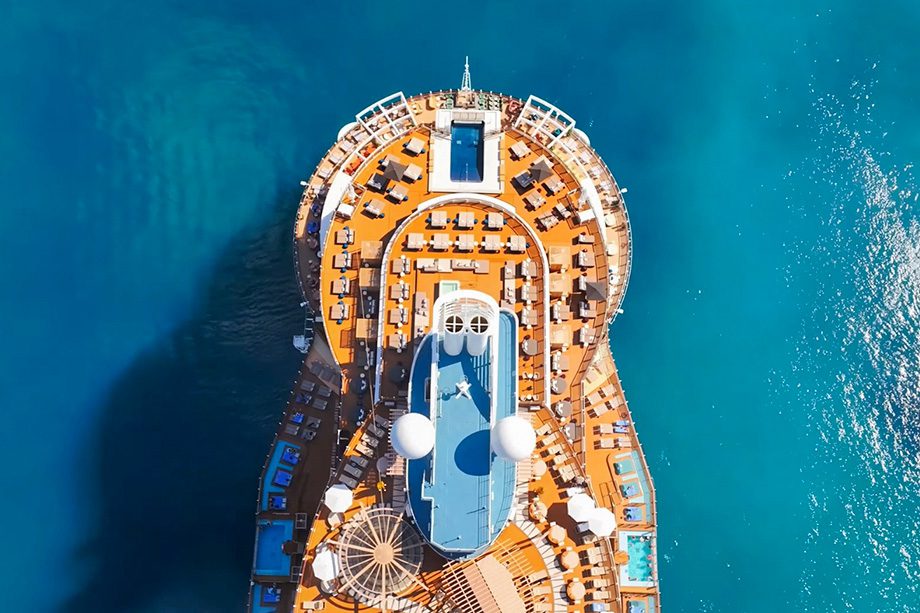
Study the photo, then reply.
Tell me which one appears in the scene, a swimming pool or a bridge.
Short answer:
swimming pool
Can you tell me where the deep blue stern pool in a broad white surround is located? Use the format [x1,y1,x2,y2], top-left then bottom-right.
[427,109,506,194]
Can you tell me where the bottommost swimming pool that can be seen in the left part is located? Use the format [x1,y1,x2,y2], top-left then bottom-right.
[252,585,288,613]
